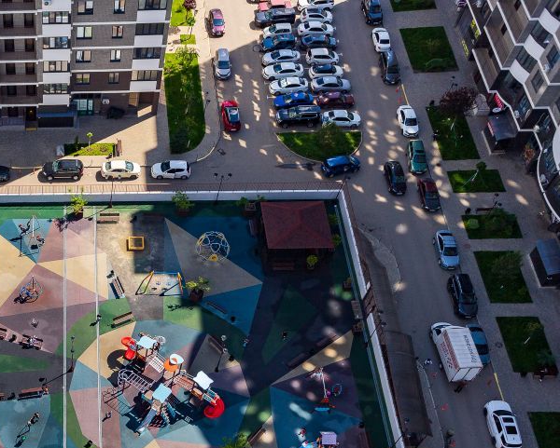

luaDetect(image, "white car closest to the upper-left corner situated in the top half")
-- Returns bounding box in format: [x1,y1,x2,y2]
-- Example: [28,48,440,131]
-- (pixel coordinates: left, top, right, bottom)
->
[101,162,140,180]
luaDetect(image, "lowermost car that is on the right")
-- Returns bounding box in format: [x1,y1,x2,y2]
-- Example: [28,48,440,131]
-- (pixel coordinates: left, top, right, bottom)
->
[486,401,523,448]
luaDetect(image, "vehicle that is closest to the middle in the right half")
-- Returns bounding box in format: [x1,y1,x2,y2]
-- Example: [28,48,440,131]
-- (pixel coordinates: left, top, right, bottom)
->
[319,156,362,177]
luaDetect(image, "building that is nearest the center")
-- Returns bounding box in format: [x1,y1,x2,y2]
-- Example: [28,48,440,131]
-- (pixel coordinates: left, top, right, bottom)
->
[260,199,337,261]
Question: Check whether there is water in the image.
No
